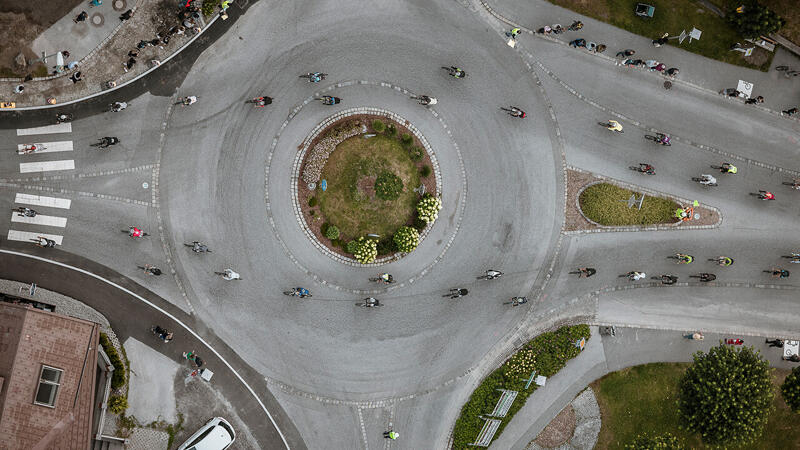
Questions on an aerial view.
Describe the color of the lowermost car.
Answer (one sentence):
The lowermost car looks white in the image.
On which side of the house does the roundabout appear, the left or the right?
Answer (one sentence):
Looking at the picture, you'll find the roundabout to the right of the house.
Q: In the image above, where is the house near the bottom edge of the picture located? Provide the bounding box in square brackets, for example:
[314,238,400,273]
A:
[0,294,128,450]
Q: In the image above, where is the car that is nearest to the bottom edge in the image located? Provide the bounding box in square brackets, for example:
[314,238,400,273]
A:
[180,416,241,450]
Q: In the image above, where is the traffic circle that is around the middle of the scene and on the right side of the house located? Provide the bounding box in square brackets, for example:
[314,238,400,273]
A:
[155,0,566,405]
